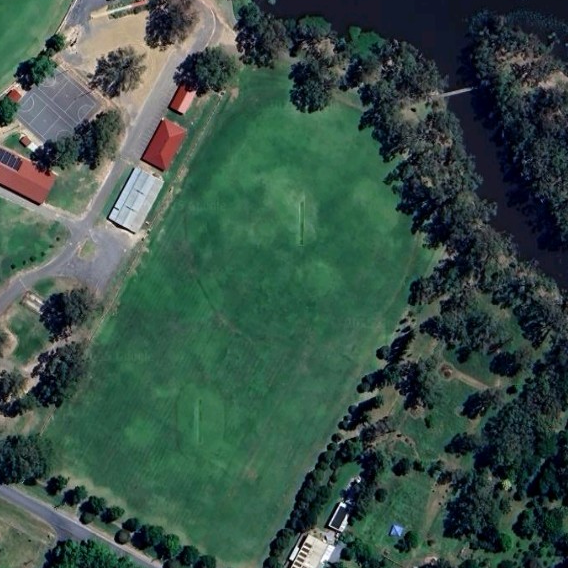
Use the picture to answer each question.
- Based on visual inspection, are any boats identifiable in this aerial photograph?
No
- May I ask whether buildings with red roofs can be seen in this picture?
Yes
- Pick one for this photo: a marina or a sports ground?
sports ground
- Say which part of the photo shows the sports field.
center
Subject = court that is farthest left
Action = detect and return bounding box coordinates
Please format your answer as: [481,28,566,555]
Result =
[18,93,61,140]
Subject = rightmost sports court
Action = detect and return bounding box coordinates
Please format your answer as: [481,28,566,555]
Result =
[40,69,94,124]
